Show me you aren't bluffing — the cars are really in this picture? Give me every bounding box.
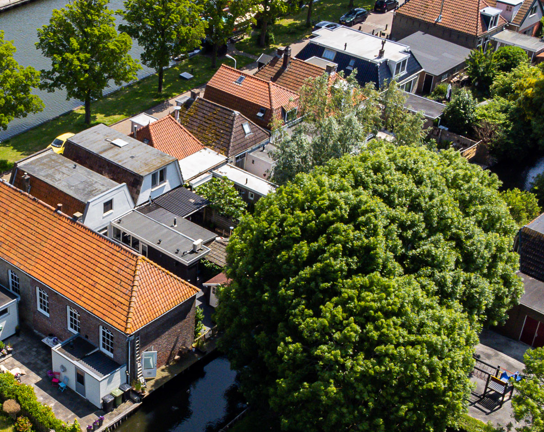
[49,130,80,155]
[303,20,336,40]
[336,4,369,25]
[373,0,398,11]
